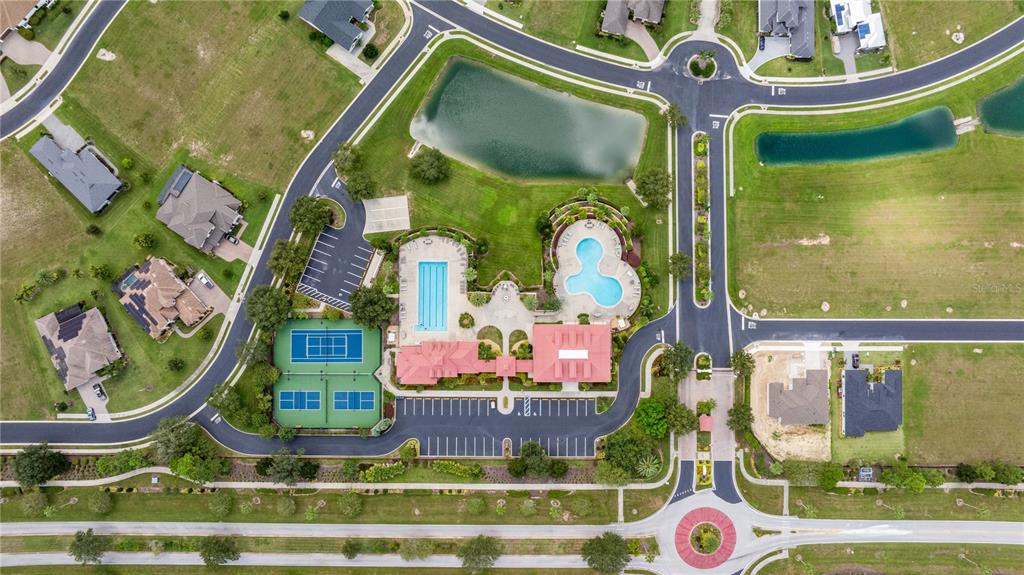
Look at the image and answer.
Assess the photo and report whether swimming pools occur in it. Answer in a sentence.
Yes, this view includes a swimming pool.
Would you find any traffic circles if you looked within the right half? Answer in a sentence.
Yes, within the right half there is a traffic circle.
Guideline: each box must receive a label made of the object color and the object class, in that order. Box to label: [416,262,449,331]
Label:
blue swimming pool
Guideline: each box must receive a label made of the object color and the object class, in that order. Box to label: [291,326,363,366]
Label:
blue tennis court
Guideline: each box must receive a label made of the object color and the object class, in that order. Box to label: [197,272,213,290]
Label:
white vehicle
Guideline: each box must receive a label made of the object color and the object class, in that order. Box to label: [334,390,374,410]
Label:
blue sports court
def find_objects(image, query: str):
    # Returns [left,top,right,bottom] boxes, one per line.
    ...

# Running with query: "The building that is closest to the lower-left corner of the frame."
[35,306,123,391]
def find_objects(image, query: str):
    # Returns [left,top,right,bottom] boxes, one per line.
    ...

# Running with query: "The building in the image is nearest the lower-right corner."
[841,369,903,436]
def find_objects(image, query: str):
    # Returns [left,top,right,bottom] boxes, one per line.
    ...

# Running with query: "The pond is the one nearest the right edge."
[975,75,1024,138]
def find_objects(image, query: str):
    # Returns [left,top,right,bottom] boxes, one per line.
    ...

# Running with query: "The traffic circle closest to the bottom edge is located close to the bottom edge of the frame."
[675,507,736,569]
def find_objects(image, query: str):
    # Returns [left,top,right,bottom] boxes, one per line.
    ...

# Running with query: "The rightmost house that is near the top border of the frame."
[825,0,886,50]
